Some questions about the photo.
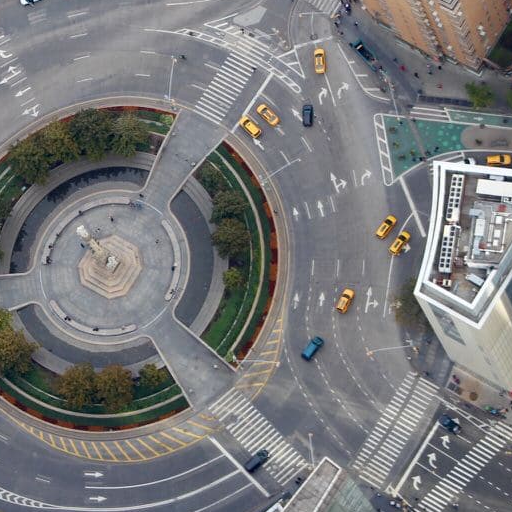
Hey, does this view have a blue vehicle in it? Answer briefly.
Yes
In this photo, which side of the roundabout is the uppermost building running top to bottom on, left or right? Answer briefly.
to the right of it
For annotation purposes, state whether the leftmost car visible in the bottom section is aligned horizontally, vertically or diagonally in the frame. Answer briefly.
diagonally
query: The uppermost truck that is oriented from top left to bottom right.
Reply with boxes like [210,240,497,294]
[348,37,381,68]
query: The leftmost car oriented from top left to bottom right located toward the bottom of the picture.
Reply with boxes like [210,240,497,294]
[437,413,462,435]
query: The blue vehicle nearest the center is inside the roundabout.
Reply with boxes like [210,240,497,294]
[298,334,325,361]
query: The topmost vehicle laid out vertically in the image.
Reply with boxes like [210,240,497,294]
[312,46,325,73]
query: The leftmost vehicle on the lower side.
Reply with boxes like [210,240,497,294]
[242,446,270,473]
